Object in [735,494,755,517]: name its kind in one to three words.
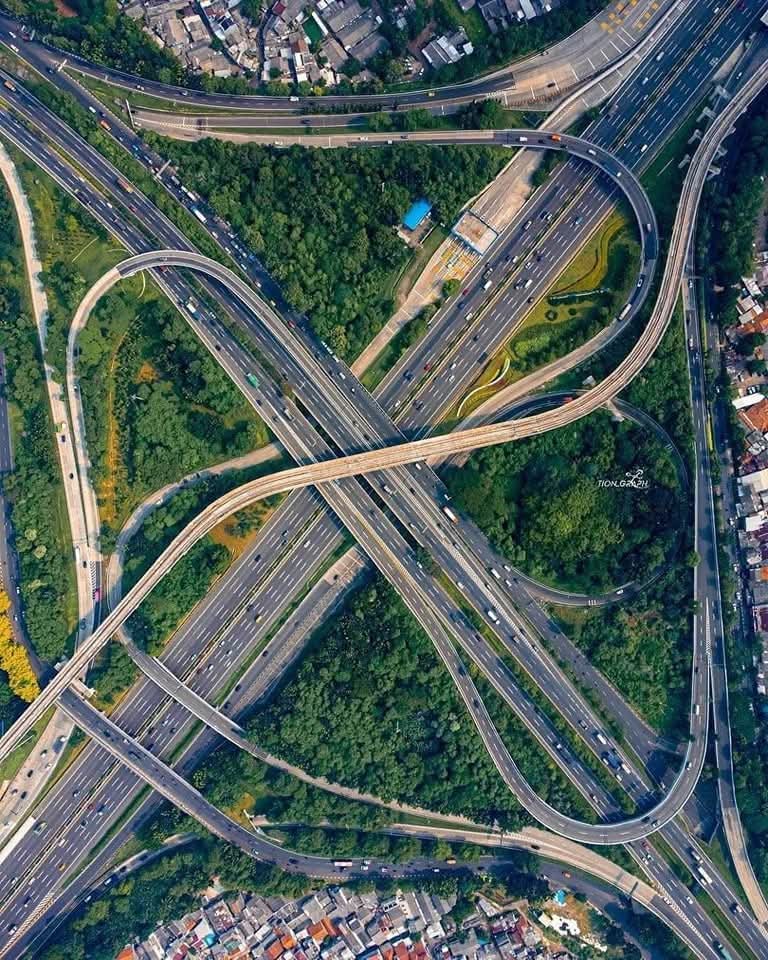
house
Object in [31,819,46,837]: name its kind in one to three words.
vehicle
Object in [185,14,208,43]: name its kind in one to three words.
house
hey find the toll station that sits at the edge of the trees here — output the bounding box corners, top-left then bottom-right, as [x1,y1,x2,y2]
[442,201,505,270]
